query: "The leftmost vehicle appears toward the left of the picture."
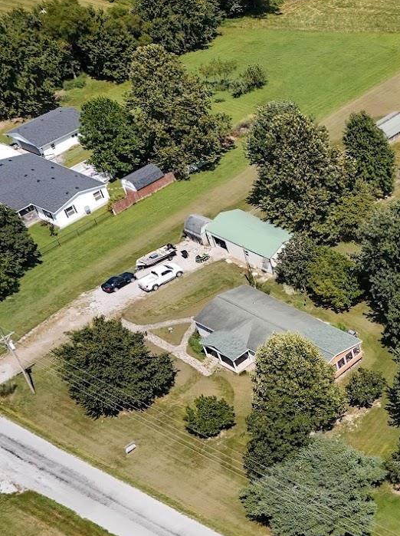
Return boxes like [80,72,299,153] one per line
[96,269,138,294]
